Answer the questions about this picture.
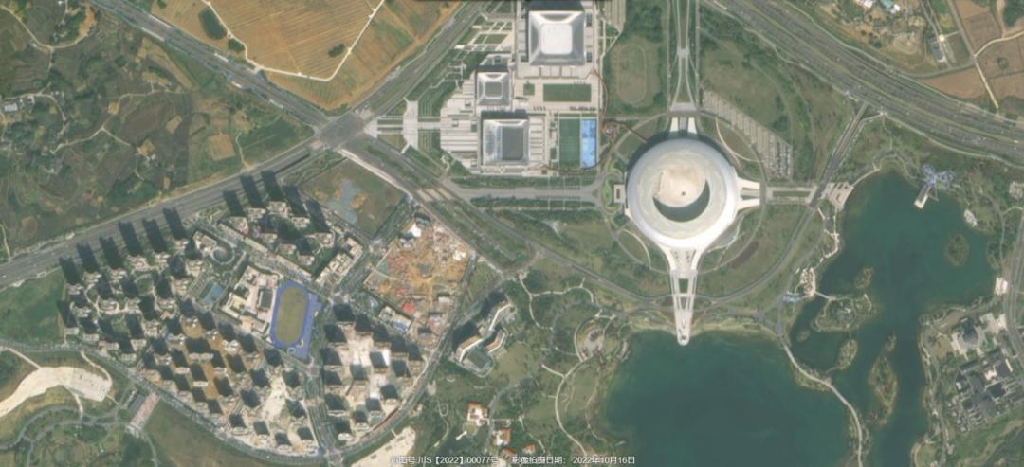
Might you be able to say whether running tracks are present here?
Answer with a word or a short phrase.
Yes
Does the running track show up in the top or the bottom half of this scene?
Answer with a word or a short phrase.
bottom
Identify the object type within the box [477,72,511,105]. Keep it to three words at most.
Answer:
building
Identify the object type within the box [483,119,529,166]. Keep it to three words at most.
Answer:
building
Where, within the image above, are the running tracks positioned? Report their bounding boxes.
[269,278,323,359]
